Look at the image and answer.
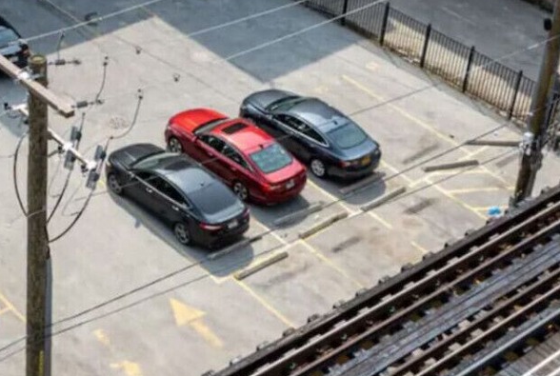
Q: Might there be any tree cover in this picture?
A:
No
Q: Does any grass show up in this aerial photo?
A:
No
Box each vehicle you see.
[107,143,254,256]
[164,105,311,209]
[0,12,35,76]
[238,83,387,184]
